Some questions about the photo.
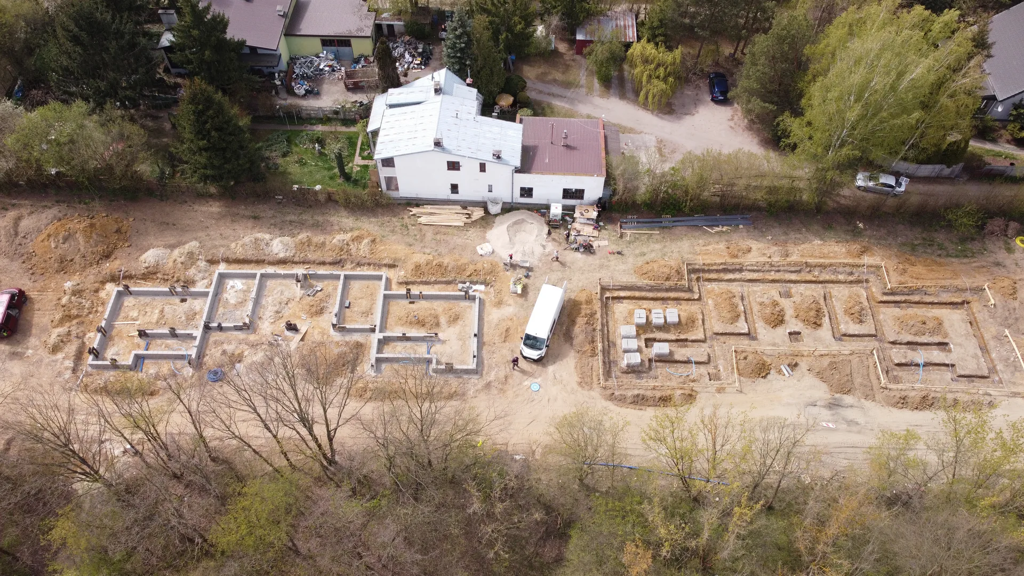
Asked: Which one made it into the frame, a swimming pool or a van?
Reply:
van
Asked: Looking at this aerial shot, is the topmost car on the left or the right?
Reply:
right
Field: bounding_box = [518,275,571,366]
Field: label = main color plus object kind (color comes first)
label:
white van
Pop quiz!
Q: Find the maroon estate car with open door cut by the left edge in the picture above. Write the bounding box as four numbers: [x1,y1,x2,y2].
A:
[0,289,28,342]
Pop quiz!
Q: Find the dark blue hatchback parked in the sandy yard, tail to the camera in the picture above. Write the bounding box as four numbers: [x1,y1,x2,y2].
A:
[703,70,729,105]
